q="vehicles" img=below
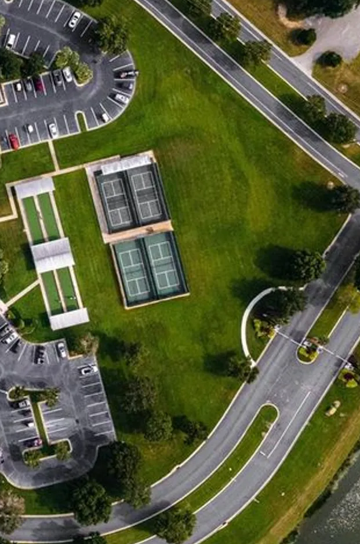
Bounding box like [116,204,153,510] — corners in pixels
[9,133,18,149]
[0,326,11,338]
[49,123,58,139]
[6,32,17,50]
[26,421,35,428]
[62,68,72,84]
[114,93,129,104]
[19,408,35,417]
[53,70,62,86]
[0,135,9,150]
[34,78,43,94]
[5,331,19,345]
[16,399,32,409]
[79,364,98,374]
[10,338,24,353]
[117,70,136,78]
[16,84,22,93]
[24,79,33,95]
[69,12,79,28]
[35,347,44,363]
[27,124,34,133]
[57,343,66,359]
[114,81,130,89]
